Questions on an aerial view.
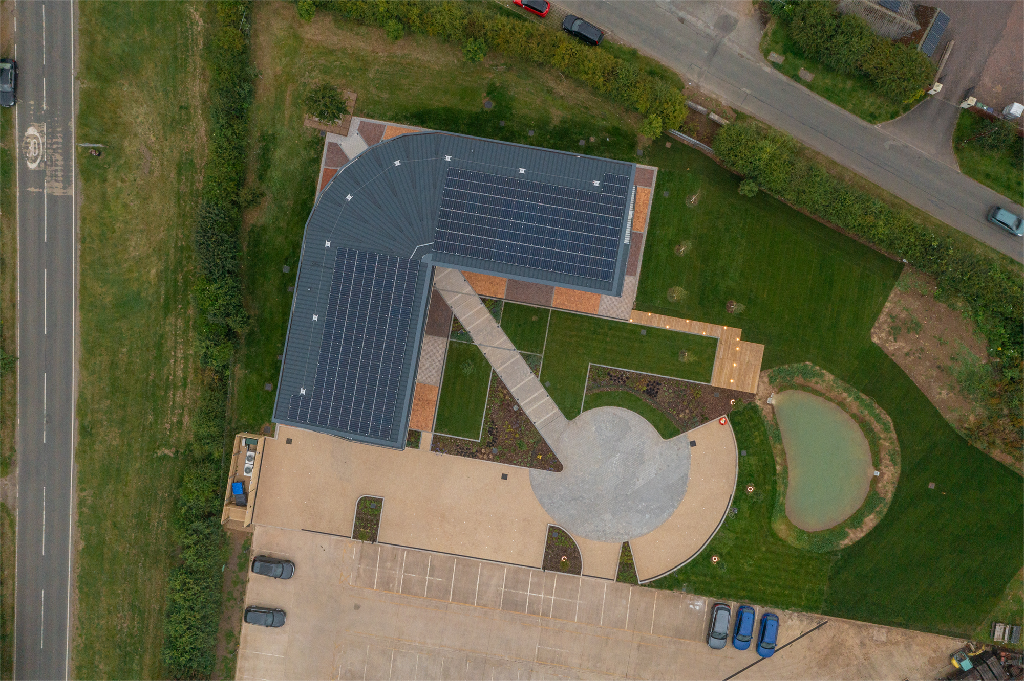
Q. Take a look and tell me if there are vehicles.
Yes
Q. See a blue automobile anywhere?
Yes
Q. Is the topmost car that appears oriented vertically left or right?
left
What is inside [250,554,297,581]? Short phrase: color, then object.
gray car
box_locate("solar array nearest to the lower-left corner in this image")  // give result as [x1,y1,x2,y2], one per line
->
[287,247,419,435]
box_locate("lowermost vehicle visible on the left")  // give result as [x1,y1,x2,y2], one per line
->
[243,603,287,630]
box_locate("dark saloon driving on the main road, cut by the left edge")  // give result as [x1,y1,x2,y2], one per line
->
[0,58,21,108]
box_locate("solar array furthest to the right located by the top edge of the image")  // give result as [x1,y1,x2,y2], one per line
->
[923,10,952,56]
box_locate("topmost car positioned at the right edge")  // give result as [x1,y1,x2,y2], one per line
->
[982,205,1024,238]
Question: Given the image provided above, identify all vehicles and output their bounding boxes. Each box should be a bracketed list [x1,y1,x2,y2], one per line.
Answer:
[945,633,983,675]
[560,14,605,46]
[512,0,554,22]
[754,611,779,657]
[730,604,755,650]
[250,554,297,581]
[243,603,287,630]
[0,58,21,108]
[982,205,1024,238]
[706,601,732,649]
